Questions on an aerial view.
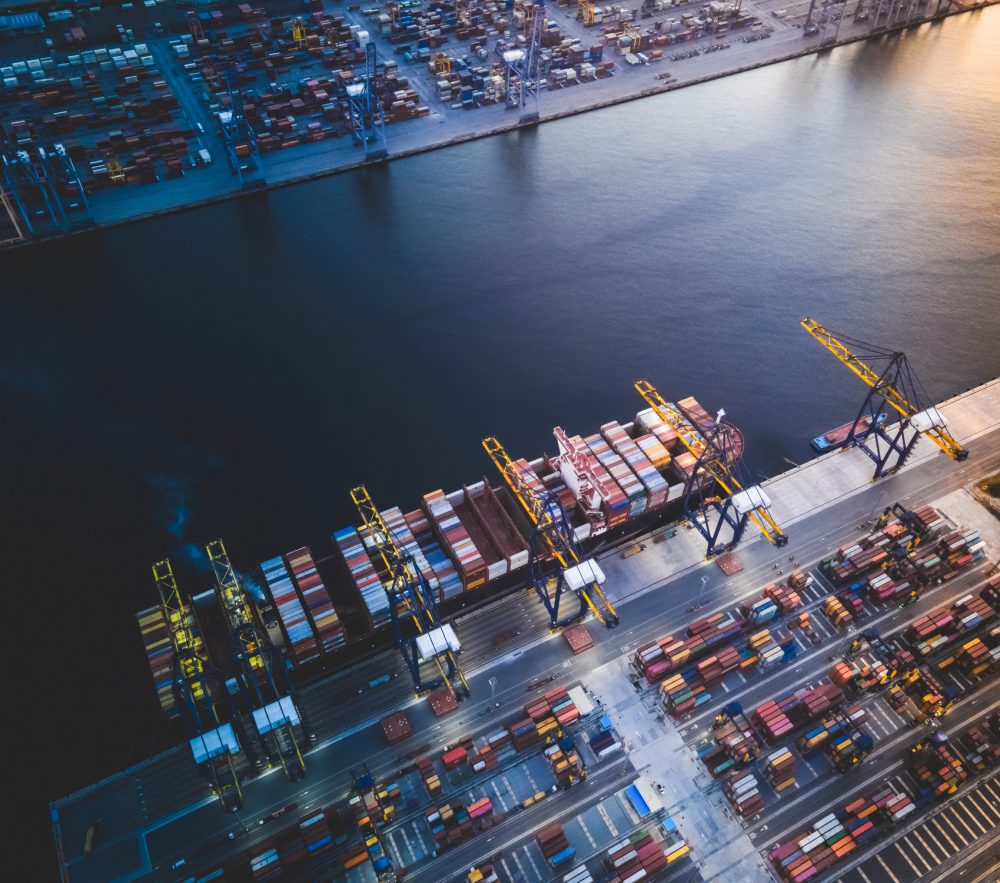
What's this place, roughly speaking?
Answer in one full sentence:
The area seen from above is a port.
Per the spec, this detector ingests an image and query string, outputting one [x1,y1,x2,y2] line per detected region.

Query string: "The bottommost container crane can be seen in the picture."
[358,817,400,883]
